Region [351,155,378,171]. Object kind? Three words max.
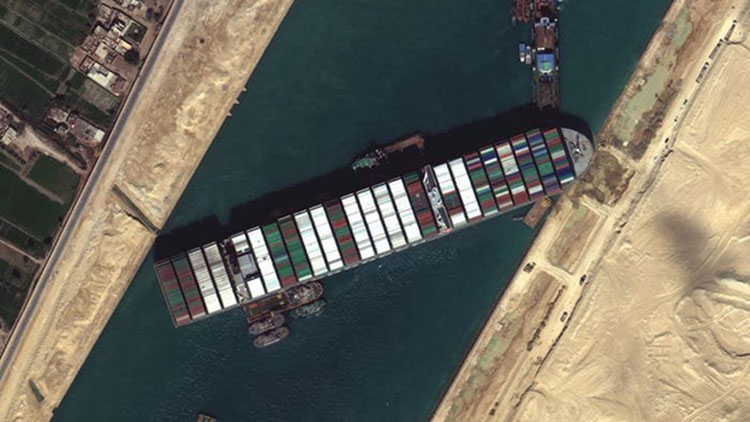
boat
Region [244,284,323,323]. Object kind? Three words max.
ship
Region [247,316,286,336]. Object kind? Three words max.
boat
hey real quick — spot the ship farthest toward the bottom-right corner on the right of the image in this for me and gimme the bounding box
[524,197,552,228]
